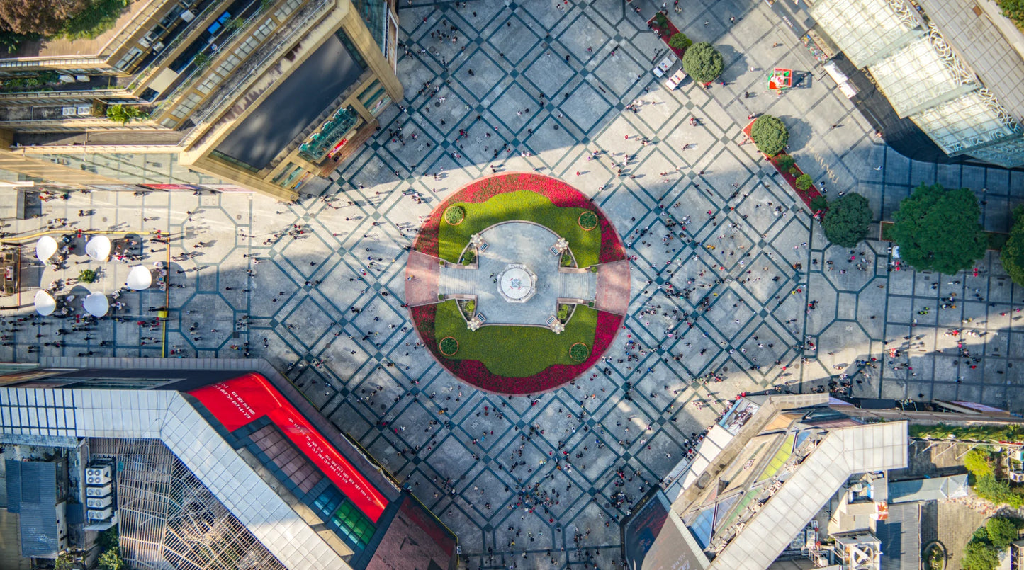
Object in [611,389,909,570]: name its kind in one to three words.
building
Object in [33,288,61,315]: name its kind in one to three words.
umbrella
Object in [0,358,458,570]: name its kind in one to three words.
building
